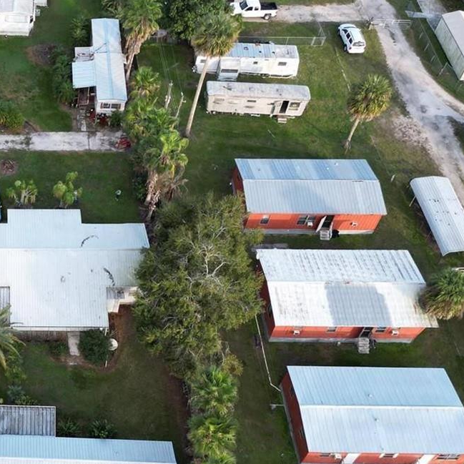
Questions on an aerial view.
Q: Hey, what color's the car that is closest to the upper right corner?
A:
white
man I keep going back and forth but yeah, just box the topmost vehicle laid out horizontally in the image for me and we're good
[230,0,280,19]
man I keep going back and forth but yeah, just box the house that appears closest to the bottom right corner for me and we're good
[280,367,464,464]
